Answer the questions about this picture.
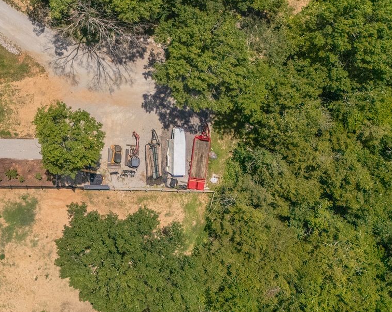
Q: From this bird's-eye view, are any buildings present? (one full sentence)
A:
No, no building is visible in the view.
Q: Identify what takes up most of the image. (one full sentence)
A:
What you mostly see from above here is trees.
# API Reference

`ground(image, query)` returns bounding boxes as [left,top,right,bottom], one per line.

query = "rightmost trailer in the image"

[186,122,211,190]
